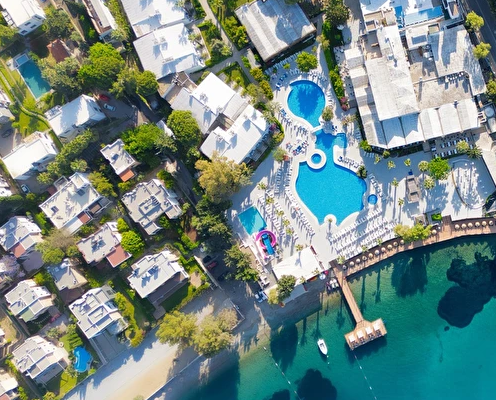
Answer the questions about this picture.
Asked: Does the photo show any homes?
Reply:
Yes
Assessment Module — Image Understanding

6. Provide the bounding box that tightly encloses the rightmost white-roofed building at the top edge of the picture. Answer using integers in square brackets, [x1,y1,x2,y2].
[344,0,485,149]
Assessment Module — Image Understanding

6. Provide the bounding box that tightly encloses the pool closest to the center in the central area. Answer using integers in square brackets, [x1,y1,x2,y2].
[235,205,267,236]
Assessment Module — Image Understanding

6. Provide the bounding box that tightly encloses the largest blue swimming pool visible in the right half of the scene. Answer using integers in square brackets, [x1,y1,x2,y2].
[284,77,369,230]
